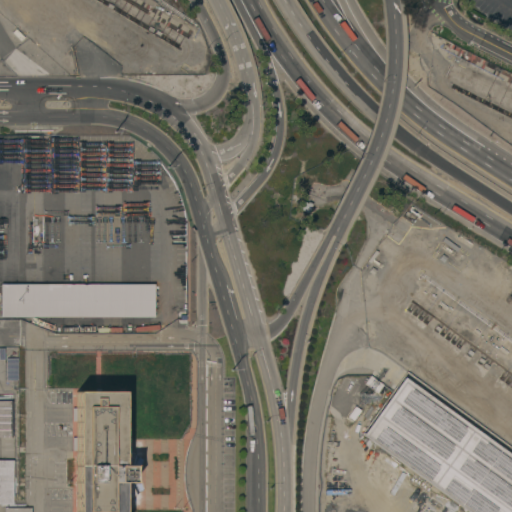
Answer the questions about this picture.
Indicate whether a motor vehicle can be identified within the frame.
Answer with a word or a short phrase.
Yes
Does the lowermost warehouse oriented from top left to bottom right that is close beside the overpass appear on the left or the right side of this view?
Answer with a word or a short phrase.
right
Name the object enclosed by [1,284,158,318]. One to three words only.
building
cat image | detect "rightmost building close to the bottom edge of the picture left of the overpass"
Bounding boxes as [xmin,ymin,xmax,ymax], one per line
[77,391,142,512]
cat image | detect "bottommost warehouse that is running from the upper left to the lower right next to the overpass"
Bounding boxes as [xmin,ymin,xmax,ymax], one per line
[364,377,512,512]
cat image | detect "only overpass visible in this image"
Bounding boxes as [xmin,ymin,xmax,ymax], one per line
[265,0,409,450]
